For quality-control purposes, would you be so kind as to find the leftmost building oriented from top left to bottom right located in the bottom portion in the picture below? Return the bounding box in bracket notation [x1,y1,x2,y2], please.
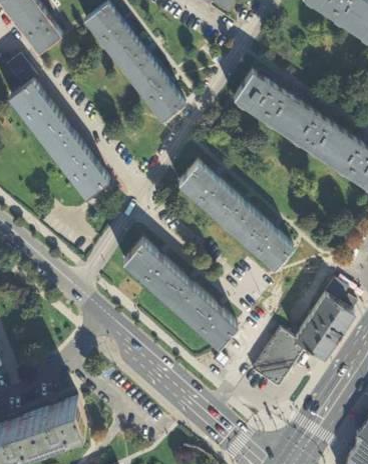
[124,230,237,352]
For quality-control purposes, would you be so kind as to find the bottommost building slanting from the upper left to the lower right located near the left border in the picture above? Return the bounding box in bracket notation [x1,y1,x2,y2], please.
[11,76,111,201]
